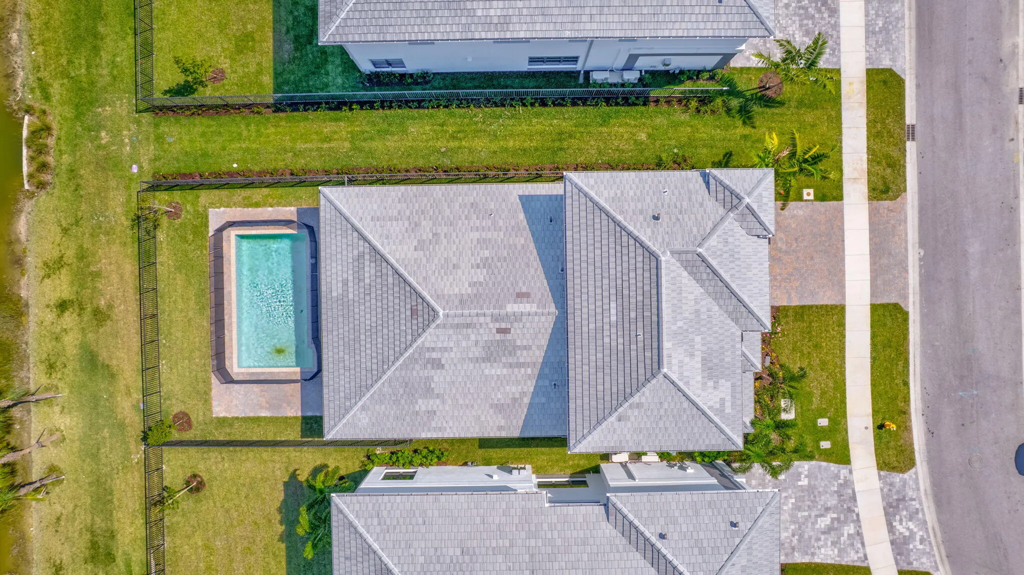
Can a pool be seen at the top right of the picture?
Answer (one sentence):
No, I can find no pool at the top right of the picture.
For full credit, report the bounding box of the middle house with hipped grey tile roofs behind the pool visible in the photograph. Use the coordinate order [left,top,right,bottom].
[318,162,780,455]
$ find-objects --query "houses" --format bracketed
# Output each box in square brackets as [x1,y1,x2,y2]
[315,0,778,75]
[318,162,780,455]
[329,460,785,575]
